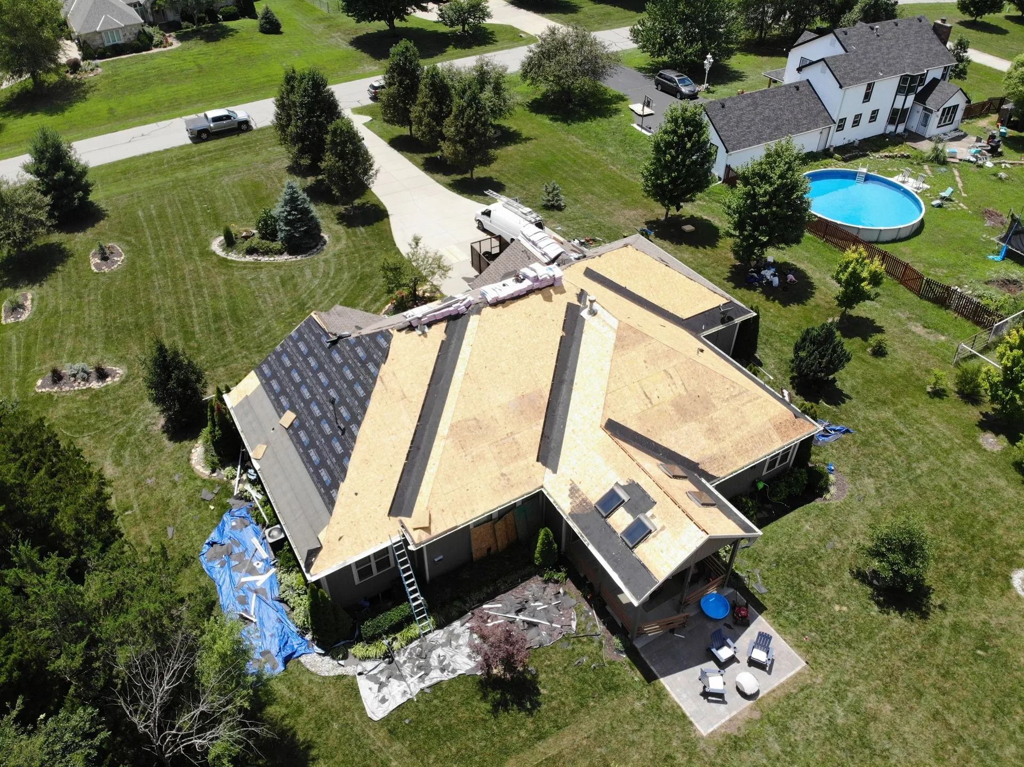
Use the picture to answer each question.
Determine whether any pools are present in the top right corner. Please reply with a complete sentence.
Yes, the scene does show a pool in the top right corner.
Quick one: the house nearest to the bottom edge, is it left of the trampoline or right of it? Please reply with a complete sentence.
Relative to the trampoline, the house nearest to the bottom edge is on the left.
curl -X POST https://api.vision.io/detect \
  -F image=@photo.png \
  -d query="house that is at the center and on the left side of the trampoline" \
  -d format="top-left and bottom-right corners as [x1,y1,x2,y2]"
[220,232,827,650]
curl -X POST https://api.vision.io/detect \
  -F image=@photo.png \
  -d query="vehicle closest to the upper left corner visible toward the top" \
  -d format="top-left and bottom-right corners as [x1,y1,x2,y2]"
[185,109,254,140]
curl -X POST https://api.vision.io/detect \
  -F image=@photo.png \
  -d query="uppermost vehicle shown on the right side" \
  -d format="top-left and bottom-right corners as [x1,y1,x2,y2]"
[652,69,701,100]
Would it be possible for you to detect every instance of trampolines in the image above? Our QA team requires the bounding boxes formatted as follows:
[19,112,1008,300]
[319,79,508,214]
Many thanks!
[993,216,1024,264]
